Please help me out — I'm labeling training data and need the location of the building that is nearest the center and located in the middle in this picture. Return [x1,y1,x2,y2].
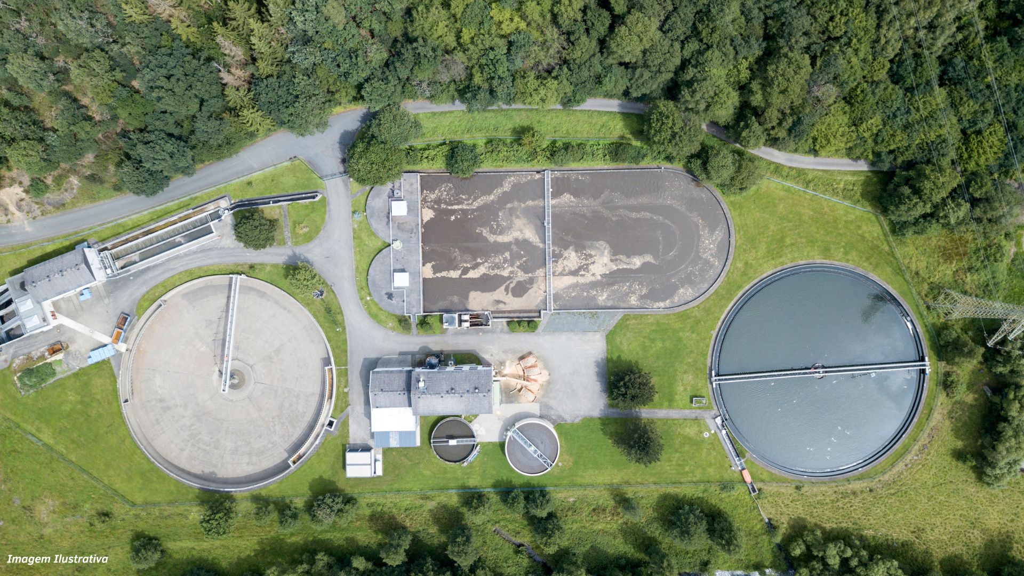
[444,312,495,328]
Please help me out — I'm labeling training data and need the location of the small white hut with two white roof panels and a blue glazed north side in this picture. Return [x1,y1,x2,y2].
[346,447,376,477]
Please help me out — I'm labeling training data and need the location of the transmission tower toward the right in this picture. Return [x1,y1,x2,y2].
[924,285,1024,348]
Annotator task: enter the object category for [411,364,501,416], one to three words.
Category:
building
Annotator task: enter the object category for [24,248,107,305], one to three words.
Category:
building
